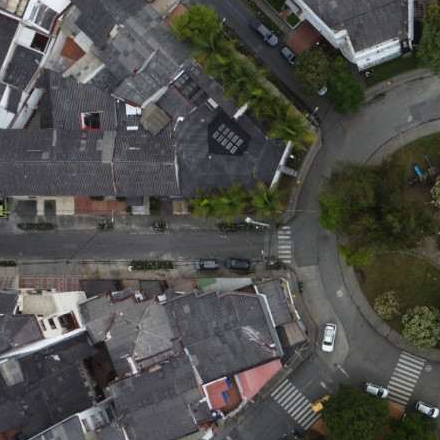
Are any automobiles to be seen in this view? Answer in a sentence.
Yes, the frame does contain an automobile.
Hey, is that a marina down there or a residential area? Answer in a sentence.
It's a residential area.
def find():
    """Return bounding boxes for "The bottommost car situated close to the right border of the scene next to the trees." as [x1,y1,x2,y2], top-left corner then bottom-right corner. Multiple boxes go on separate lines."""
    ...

[414,400,439,418]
